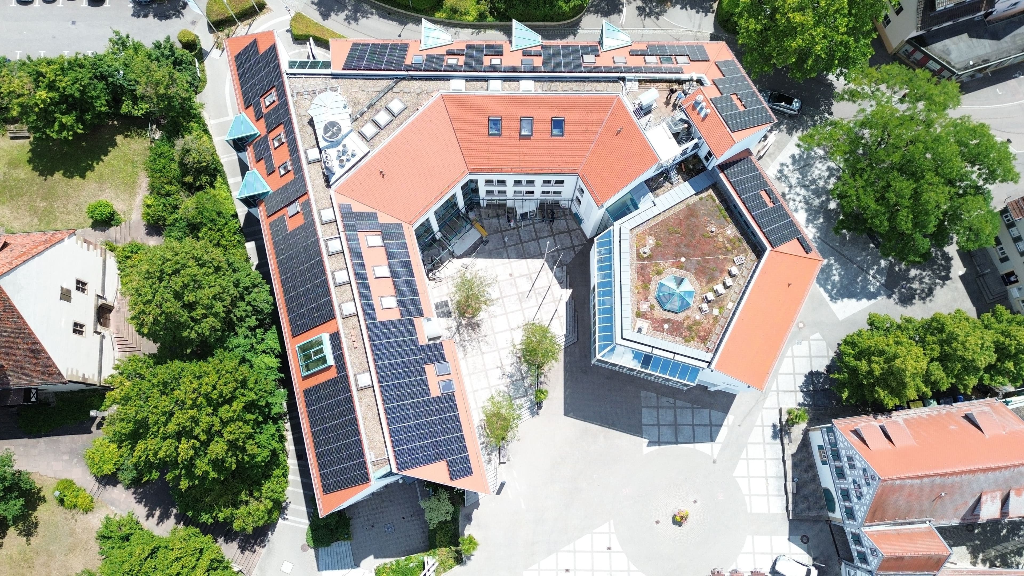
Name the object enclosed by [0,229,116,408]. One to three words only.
house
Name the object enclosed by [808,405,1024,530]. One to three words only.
house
